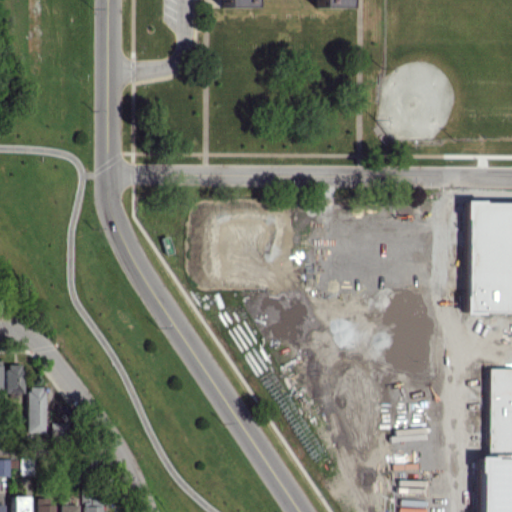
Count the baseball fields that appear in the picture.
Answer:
1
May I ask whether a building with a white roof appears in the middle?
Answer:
No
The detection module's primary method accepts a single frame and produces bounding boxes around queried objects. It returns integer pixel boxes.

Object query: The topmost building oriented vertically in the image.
[463,200,512,316]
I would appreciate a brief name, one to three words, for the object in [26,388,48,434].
house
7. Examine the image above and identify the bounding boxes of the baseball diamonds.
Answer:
[380,60,454,139]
